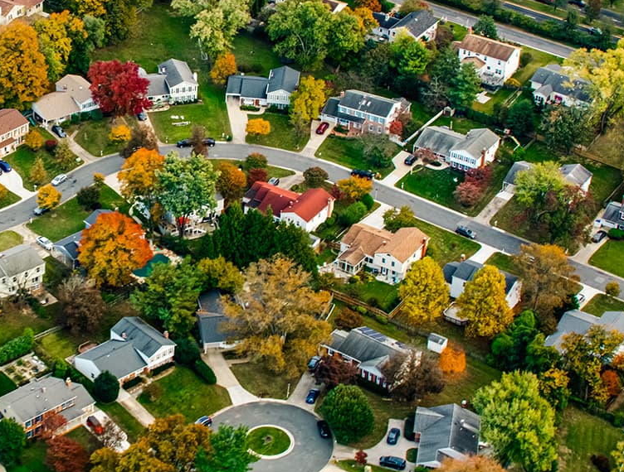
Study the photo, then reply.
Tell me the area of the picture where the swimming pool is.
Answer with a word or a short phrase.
left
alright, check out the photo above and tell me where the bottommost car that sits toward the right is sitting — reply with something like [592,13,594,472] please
[377,452,409,472]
